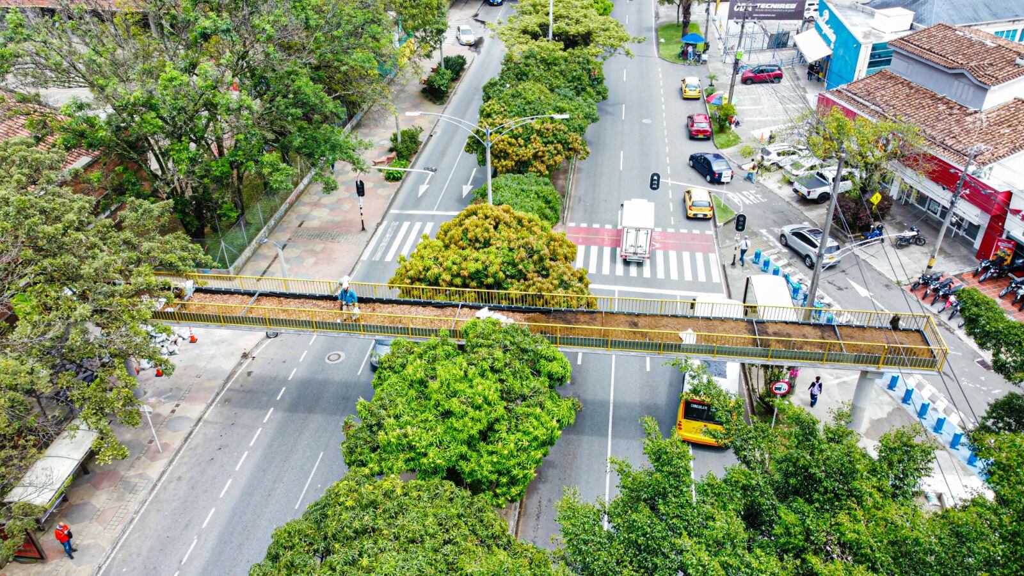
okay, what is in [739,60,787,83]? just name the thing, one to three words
car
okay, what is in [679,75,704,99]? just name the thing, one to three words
car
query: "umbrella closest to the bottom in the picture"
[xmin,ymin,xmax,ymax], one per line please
[710,84,741,106]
